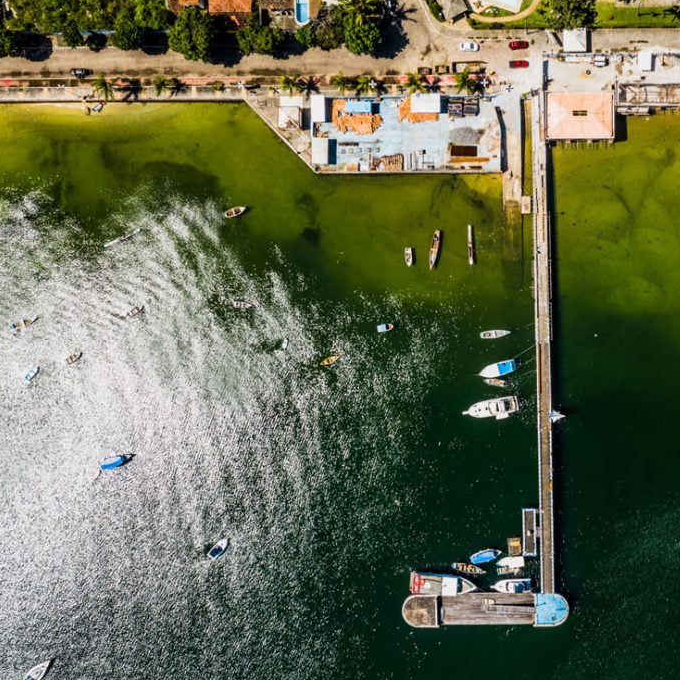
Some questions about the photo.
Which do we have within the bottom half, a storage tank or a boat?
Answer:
boat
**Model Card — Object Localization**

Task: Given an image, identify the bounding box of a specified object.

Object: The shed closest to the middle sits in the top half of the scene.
[312,138,331,167]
